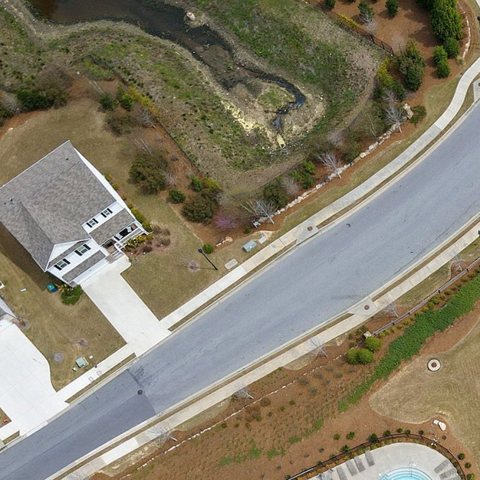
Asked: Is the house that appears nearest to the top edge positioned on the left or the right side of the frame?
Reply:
left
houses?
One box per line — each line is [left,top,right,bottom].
[0,140,150,290]
[0,297,19,332]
